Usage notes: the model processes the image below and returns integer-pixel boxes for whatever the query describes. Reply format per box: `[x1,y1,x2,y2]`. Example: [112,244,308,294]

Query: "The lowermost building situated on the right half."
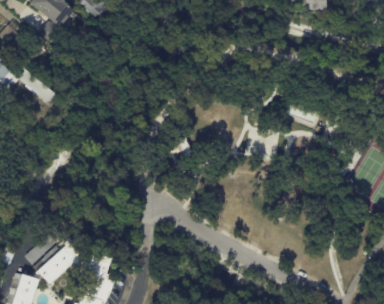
[287,103,318,128]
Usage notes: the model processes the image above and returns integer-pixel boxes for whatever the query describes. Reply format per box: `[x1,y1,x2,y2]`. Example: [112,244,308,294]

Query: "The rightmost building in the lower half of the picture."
[70,257,115,304]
